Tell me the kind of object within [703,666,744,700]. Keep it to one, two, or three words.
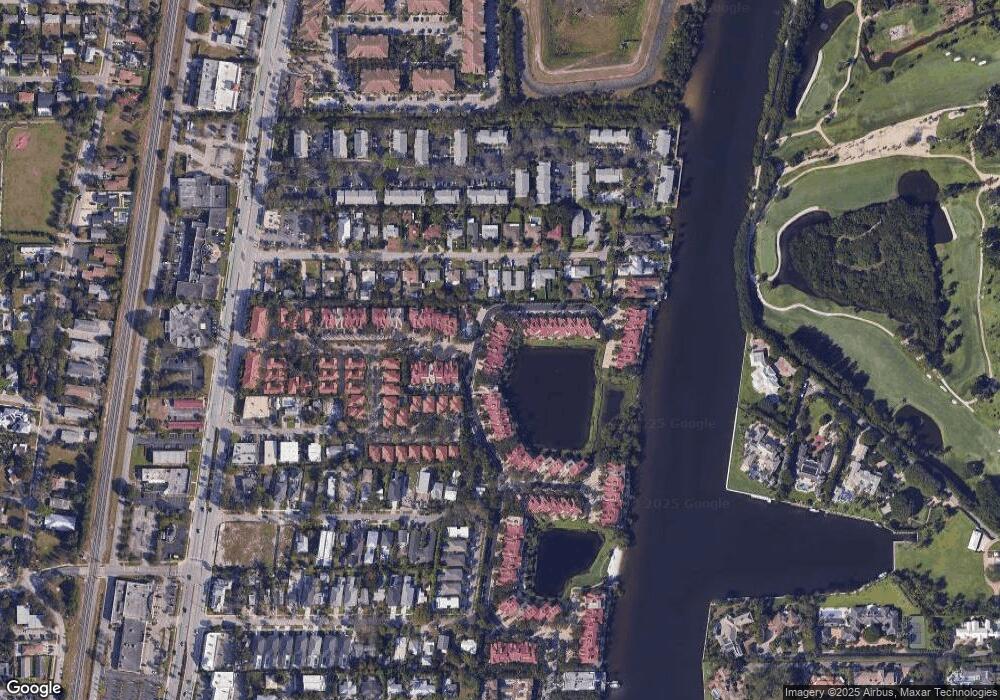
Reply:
house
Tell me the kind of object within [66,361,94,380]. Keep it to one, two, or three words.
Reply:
house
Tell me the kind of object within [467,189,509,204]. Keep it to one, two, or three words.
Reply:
building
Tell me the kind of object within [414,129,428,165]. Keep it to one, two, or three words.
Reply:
building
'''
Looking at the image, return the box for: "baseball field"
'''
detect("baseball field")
[0,124,64,231]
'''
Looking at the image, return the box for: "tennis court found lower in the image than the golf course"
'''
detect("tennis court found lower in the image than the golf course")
[910,616,927,649]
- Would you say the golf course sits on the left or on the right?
right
